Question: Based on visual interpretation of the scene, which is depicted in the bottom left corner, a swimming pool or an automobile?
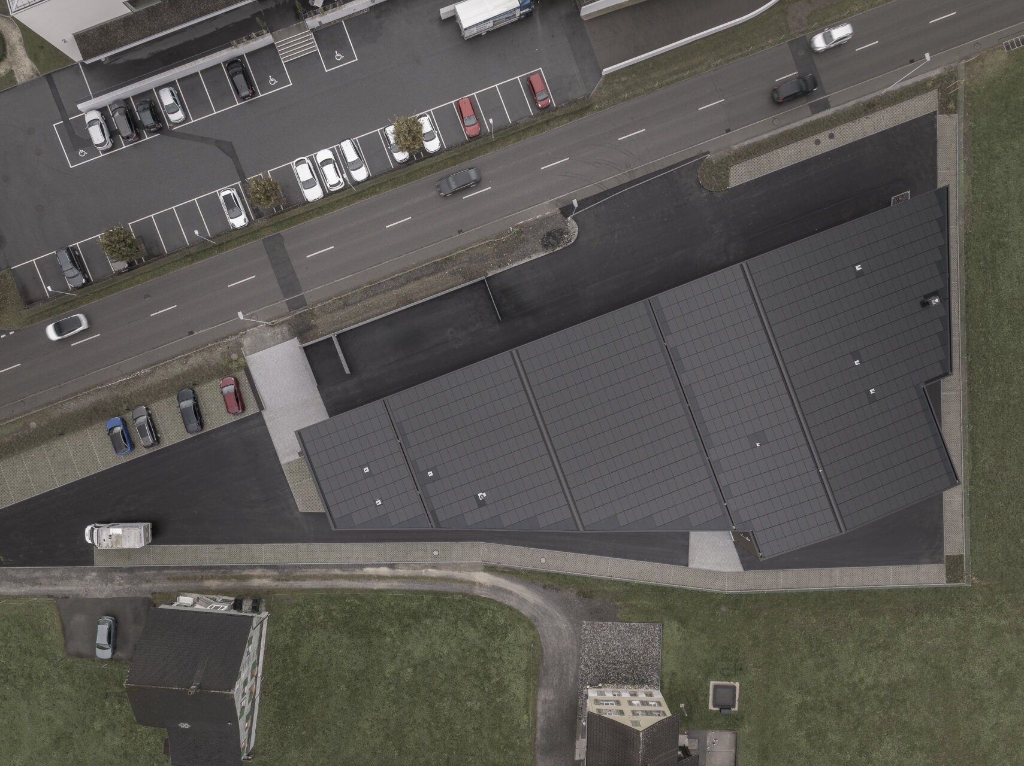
automobile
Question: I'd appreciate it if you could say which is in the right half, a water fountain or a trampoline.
trampoline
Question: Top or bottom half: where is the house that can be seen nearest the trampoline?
bottom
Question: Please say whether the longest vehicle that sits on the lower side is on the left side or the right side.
left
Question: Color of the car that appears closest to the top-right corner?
white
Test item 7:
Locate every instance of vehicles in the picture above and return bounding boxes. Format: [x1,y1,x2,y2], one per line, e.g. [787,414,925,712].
[318,151,344,190]
[133,407,161,447]
[221,189,248,227]
[456,97,481,137]
[57,247,89,287]
[229,60,256,100]
[340,139,368,181]
[810,23,853,53]
[384,125,410,163]
[50,314,90,340]
[85,112,114,150]
[295,157,324,200]
[107,418,134,455]
[89,523,153,548]
[528,73,550,109]
[159,86,187,123]
[415,113,441,152]
[110,255,133,273]
[178,390,204,432]
[112,101,141,142]
[138,100,163,134]
[95,617,119,657]
[221,377,247,414]
[456,0,538,41]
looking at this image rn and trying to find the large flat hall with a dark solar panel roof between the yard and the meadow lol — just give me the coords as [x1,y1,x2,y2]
[296,188,958,560]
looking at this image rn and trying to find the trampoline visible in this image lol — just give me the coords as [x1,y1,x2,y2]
[709,682,739,715]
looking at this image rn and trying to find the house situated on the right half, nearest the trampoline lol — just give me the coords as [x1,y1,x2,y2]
[586,689,699,766]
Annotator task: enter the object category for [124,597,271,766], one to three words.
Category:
house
